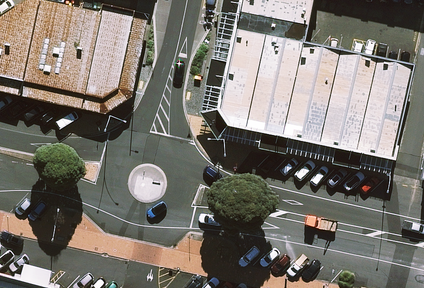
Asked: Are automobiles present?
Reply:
Yes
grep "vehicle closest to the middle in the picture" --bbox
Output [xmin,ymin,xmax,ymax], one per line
[199,162,224,180]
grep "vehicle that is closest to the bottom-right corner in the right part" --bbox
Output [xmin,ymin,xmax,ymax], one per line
[401,220,424,236]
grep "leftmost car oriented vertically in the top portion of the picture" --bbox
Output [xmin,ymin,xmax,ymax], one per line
[172,59,185,87]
